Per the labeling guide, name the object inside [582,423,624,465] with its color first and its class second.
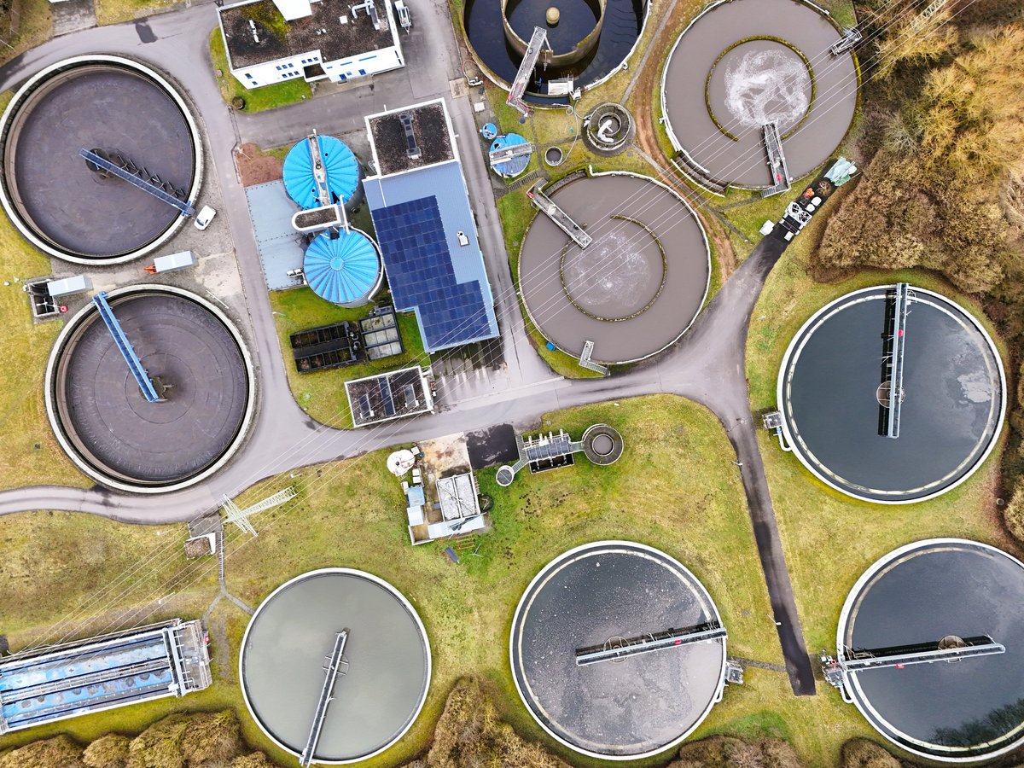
gray storage tank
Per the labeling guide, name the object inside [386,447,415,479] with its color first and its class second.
white storage tank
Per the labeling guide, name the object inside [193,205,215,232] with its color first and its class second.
white vehicle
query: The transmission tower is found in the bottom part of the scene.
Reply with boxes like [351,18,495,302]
[221,481,303,538]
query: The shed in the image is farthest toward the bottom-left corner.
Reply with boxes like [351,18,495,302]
[185,530,220,559]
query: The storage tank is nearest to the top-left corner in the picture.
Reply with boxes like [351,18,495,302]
[0,56,205,264]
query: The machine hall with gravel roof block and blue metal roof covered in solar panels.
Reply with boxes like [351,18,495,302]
[362,98,500,354]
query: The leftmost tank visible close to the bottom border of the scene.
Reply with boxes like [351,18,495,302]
[0,618,221,738]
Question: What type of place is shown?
industrial area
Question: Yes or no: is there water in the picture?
Yes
